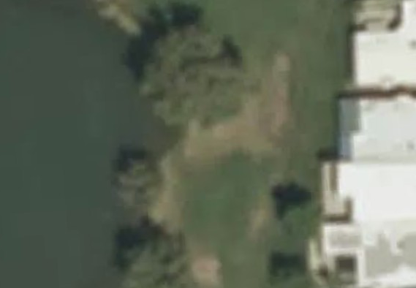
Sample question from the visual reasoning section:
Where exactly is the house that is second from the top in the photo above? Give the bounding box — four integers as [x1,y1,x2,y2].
[339,97,416,161]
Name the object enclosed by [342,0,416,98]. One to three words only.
house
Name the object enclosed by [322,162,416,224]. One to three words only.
house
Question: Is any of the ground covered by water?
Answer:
Yes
